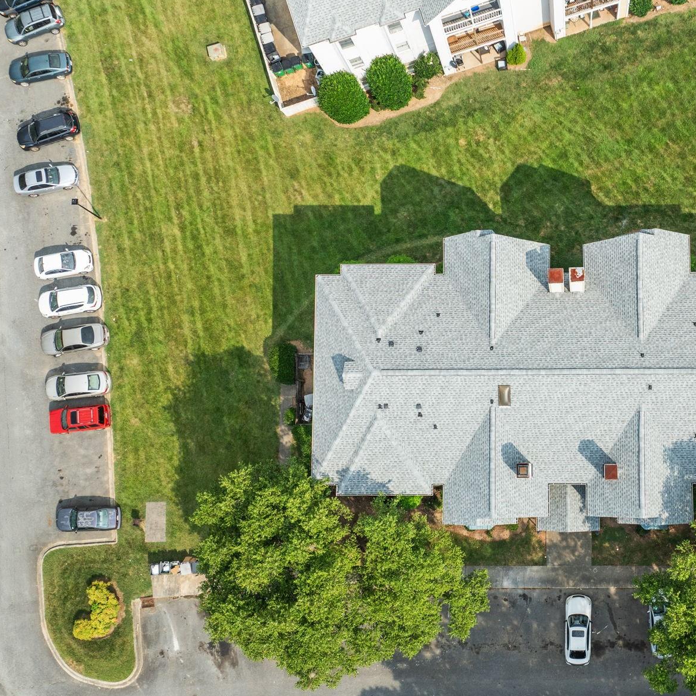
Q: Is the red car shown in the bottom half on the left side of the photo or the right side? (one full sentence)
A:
The red car shown in the bottom half is on the left side of the image.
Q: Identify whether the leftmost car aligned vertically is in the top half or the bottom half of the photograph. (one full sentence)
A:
The bottom half of the photo is where the leftmost car aligned vertically is.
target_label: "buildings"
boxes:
[285,0,633,85]
[311,231,696,534]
